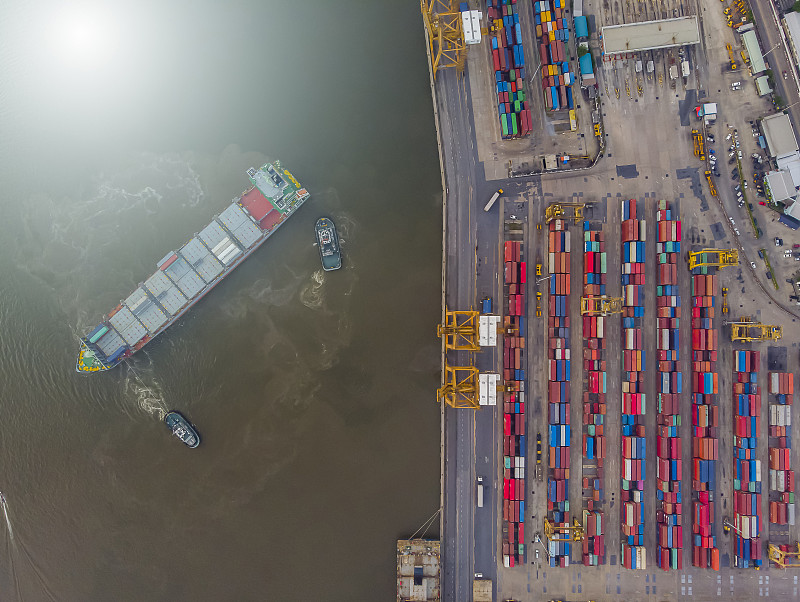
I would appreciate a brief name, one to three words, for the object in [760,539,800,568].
container crane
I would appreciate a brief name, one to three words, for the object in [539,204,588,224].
container crane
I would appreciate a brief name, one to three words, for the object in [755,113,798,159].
building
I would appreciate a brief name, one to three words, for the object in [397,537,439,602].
ship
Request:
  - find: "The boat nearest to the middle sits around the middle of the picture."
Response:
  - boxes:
[314,216,342,272]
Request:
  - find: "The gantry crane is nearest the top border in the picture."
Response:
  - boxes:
[416,1,502,81]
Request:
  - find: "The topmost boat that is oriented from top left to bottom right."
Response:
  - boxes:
[165,408,202,450]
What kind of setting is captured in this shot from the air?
port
